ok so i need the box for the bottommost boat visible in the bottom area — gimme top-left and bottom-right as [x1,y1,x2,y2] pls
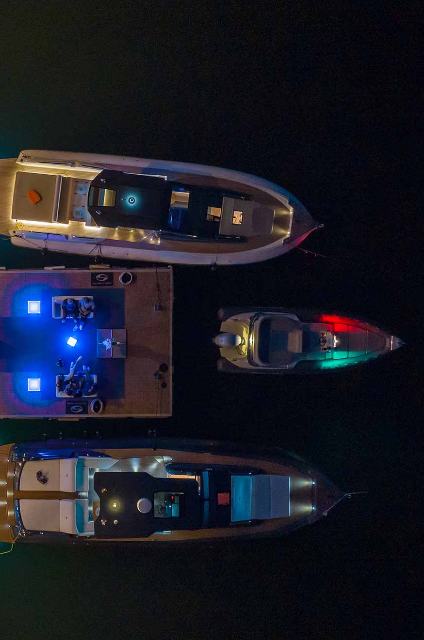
[0,438,351,548]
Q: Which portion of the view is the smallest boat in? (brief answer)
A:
right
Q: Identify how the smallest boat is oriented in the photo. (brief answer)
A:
from side to side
